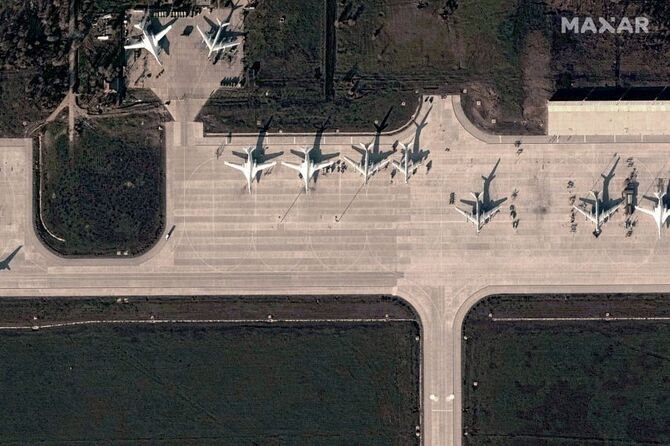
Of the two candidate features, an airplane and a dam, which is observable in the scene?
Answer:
airplane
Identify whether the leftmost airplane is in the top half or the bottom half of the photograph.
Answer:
top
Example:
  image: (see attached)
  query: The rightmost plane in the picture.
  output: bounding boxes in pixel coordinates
[634,188,670,237]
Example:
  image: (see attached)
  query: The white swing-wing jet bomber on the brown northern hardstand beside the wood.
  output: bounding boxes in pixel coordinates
[123,20,171,65]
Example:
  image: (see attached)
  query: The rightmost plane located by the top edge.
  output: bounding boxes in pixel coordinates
[197,17,241,59]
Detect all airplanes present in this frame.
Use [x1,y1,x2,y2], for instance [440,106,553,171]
[224,144,276,192]
[392,141,421,184]
[454,189,501,233]
[197,17,241,59]
[123,20,171,65]
[344,141,391,184]
[281,143,333,192]
[634,188,670,237]
[573,188,620,232]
